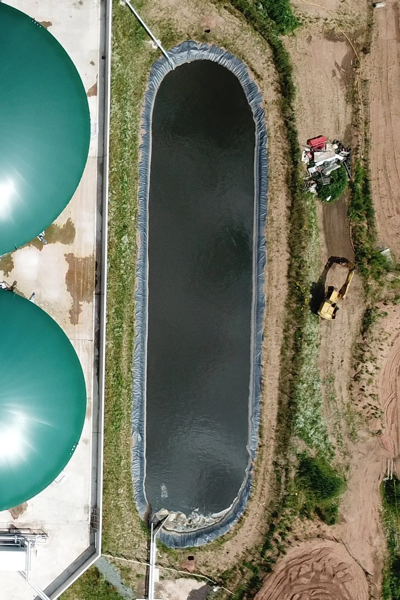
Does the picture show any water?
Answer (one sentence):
Yes, water shows up in the scene.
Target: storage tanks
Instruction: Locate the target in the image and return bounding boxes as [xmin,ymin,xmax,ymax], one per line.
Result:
[0,288,86,512]
[0,0,100,263]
